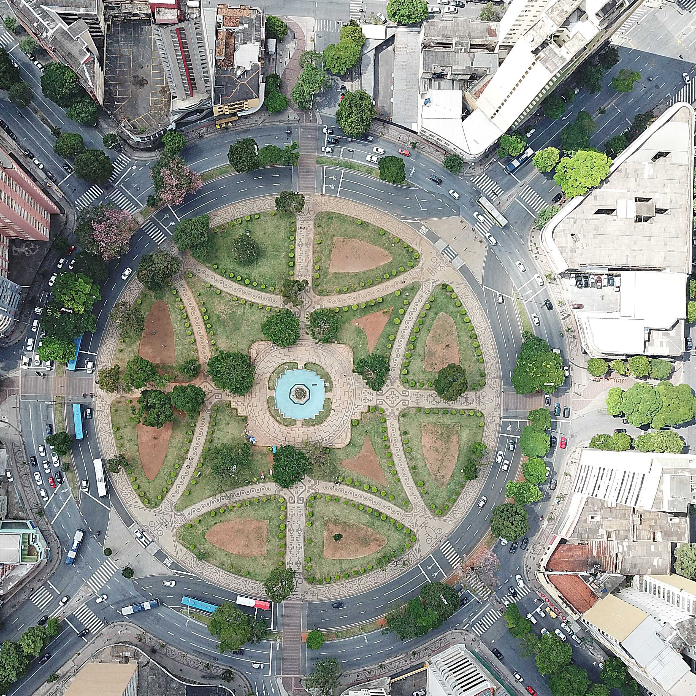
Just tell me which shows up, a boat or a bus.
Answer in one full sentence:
Of the two, only a bus appears.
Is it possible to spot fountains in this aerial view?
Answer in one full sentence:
Yes, there's a fountain down there.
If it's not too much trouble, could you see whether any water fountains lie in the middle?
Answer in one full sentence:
Yes, a water fountain is visible in the middle.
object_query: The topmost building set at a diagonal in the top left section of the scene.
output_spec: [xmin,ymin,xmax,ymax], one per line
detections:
[0,0,109,115]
